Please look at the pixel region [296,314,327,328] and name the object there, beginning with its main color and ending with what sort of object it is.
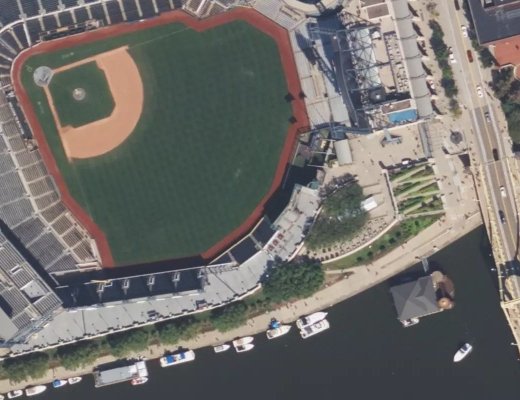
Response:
white boat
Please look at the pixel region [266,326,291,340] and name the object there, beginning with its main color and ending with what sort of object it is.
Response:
white boat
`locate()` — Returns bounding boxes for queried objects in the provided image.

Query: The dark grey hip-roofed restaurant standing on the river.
[390,271,454,319]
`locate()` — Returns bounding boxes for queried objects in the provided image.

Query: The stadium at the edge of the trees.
[0,0,372,360]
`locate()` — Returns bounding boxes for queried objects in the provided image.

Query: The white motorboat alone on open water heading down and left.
[454,342,473,361]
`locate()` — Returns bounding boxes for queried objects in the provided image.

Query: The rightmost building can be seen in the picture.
[467,0,520,81]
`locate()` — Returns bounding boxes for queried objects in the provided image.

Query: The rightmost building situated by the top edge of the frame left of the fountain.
[338,0,438,134]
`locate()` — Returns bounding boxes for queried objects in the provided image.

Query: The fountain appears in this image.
[442,123,471,152]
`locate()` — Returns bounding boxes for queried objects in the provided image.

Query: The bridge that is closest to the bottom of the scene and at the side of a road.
[475,159,520,352]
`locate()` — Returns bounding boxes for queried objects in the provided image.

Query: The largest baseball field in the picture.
[11,6,310,280]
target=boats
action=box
[159,349,196,367]
[234,337,254,346]
[266,326,291,340]
[68,377,82,385]
[236,344,255,353]
[296,314,327,328]
[401,318,416,327]
[6,390,23,399]
[52,379,67,387]
[212,344,231,353]
[300,322,329,338]
[25,386,47,396]
[454,342,473,361]
[130,377,148,385]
